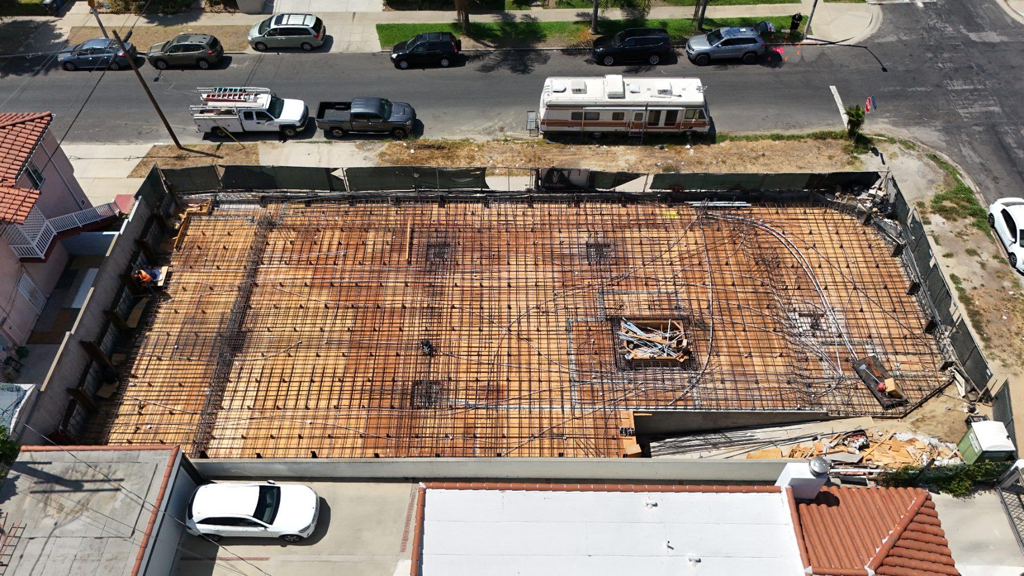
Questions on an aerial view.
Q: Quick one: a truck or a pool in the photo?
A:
truck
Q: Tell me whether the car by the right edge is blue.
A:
No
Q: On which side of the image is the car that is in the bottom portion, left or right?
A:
left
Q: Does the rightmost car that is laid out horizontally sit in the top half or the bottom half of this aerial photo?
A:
top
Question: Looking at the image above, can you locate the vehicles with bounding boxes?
[54,35,141,71]
[590,23,674,65]
[244,10,330,51]
[311,94,419,138]
[986,199,1024,275]
[145,30,227,69]
[683,17,786,64]
[184,475,320,540]
[176,83,314,138]
[534,75,712,146]
[387,29,465,68]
